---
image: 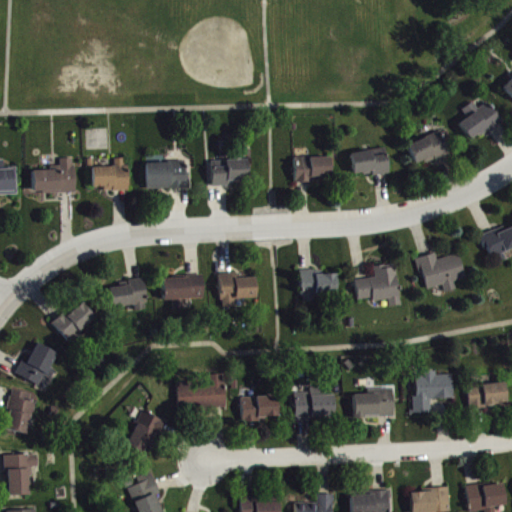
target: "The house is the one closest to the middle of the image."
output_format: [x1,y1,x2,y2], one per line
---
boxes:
[216,272,260,307]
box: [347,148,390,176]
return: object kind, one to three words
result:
house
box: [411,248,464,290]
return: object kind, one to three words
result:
house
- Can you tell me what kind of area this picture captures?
residential area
